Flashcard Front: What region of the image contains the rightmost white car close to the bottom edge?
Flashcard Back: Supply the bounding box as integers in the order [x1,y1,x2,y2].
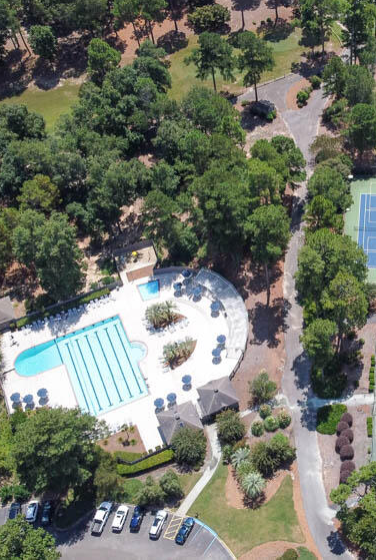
[149,511,169,538]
